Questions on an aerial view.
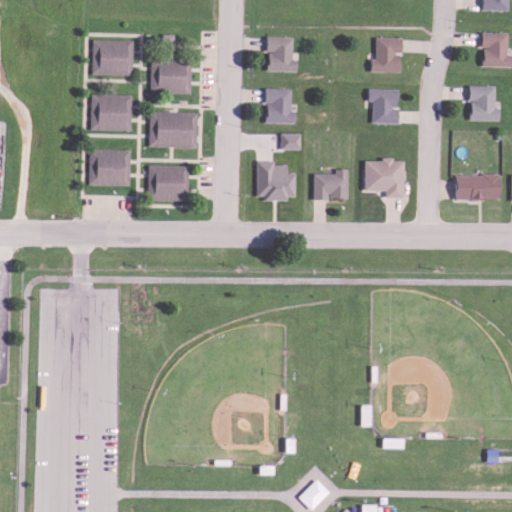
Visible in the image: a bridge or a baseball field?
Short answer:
baseball field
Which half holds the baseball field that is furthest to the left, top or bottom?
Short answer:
bottom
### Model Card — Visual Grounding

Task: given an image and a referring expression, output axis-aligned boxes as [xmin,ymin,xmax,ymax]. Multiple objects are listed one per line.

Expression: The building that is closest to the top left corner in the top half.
[92,40,134,76]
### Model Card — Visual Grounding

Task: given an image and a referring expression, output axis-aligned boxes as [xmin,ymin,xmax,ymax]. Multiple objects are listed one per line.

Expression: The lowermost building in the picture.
[299,480,328,510]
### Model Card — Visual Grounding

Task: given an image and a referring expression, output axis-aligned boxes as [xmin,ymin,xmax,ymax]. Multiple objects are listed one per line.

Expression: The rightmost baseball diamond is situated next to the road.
[370,288,512,440]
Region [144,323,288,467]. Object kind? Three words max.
baseball field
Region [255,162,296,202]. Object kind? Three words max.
house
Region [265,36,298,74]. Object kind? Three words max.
house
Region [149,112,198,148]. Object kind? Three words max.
building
